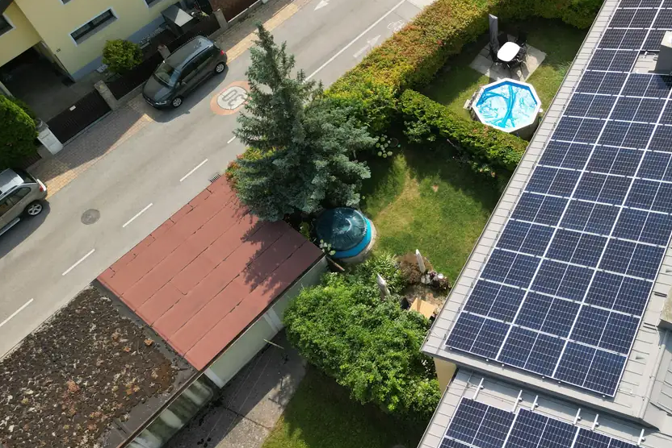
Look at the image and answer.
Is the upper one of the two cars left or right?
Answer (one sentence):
The upper one of the two cars appears in the left half of the scene.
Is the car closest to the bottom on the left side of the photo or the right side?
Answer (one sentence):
It is on the left.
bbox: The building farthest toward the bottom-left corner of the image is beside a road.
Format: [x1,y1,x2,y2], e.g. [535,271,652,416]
[0,277,218,448]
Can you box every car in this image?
[137,37,229,112]
[0,165,46,233]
